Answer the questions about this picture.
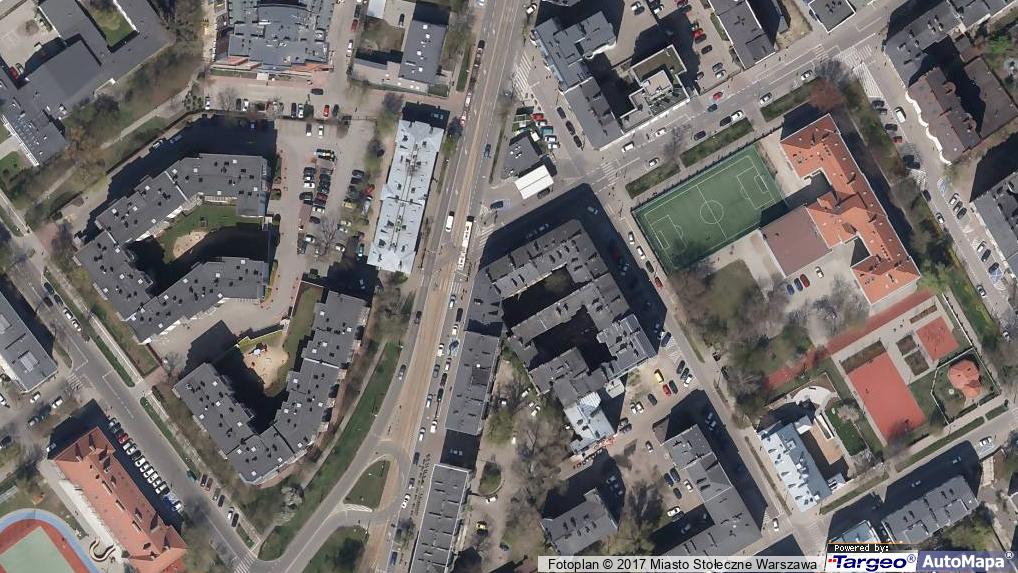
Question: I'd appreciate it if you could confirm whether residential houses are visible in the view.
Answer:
Yes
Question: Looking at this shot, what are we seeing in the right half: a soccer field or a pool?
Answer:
soccer field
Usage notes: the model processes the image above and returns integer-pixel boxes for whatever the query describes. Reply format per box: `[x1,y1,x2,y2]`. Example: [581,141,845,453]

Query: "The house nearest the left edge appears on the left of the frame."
[0,286,61,391]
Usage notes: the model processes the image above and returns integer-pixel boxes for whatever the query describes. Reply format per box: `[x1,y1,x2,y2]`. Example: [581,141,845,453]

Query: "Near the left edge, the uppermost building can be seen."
[0,0,172,167]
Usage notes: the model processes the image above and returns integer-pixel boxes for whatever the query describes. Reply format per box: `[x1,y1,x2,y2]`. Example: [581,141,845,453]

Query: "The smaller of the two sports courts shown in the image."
[917,317,959,360]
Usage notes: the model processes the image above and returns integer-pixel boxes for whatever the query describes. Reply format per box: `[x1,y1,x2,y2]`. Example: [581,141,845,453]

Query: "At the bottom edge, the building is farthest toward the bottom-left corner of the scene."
[54,426,192,573]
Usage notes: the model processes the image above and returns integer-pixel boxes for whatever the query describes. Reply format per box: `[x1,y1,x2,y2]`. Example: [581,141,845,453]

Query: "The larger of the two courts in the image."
[848,352,926,442]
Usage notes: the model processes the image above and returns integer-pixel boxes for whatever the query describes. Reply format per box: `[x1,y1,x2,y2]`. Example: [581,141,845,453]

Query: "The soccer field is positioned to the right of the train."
[631,144,790,277]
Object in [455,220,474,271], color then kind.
white train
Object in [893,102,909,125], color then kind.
white vehicle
